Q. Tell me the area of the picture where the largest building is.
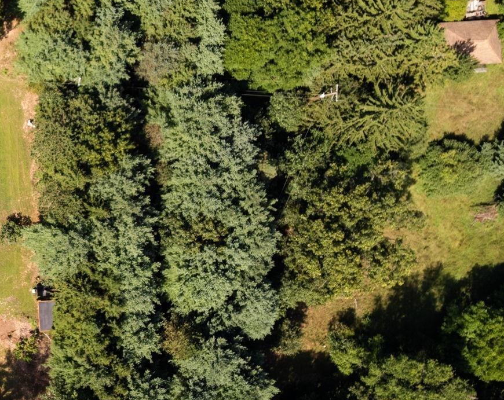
top right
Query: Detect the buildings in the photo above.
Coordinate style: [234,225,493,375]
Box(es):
[38,300,56,332]
[431,20,503,65]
